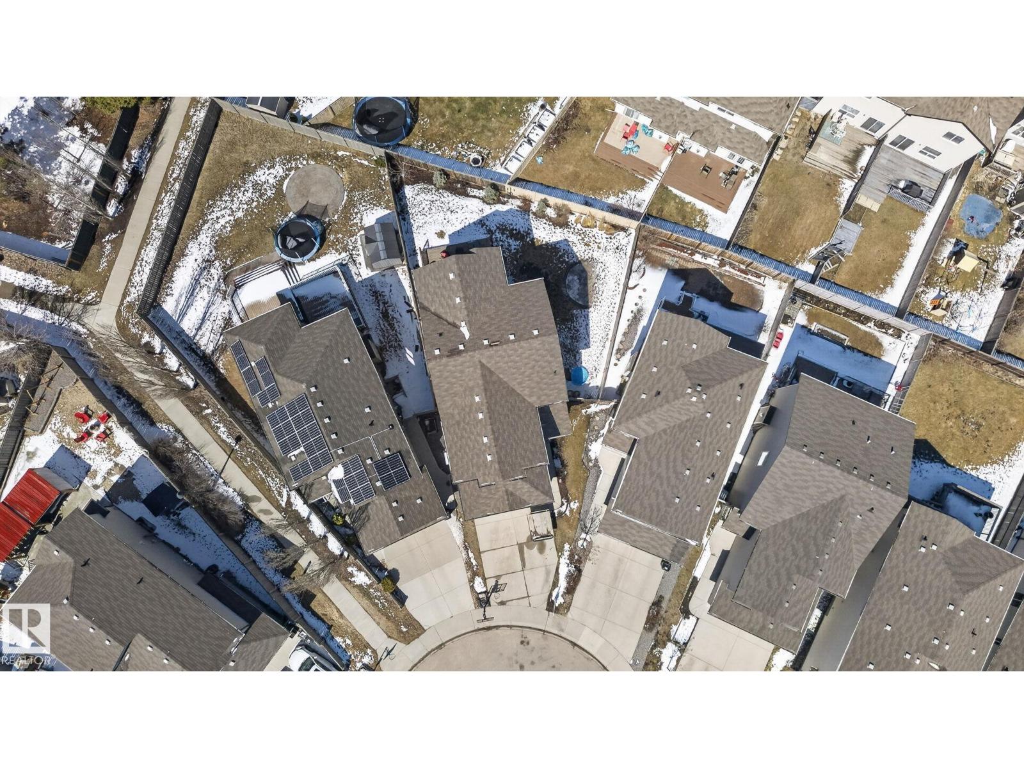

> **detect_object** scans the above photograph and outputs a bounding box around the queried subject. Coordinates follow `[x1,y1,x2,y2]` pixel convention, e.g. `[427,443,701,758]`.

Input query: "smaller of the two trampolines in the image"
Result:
[269,205,326,266]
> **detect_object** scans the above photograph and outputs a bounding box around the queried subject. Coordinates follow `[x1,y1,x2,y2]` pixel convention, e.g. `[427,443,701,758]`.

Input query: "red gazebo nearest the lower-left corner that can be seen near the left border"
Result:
[0,503,41,562]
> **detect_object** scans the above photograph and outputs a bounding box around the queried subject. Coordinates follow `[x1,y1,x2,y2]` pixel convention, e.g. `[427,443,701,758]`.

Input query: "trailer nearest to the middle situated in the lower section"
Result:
[527,509,554,541]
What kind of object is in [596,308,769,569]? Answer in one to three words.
house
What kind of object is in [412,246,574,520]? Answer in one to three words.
house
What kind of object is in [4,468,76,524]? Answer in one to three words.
gazebo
